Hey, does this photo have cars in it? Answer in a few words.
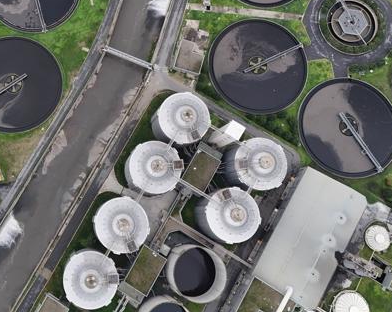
No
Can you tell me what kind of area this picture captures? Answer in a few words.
industrial area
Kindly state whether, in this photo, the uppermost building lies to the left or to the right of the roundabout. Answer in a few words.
to its left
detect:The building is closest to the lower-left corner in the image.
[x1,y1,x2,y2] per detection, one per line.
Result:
[36,292,69,312]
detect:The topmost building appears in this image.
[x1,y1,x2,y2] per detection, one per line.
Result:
[173,39,204,76]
